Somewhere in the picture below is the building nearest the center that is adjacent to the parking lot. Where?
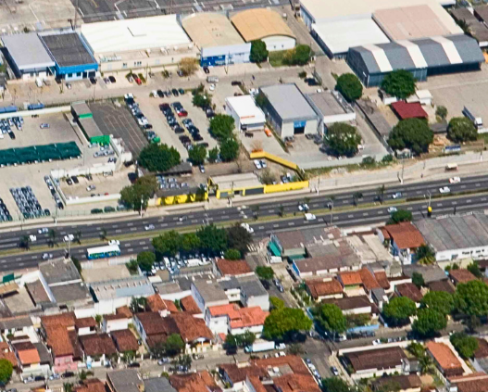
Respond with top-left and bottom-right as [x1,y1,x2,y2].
[209,173,264,200]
